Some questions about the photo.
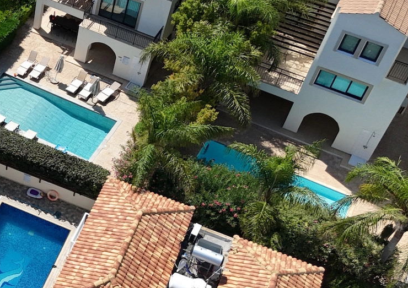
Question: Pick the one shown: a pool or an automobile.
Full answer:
The image shows a pool.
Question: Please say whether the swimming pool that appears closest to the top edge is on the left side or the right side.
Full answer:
It is on the left.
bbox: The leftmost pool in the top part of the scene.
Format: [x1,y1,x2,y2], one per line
[0,67,128,160]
